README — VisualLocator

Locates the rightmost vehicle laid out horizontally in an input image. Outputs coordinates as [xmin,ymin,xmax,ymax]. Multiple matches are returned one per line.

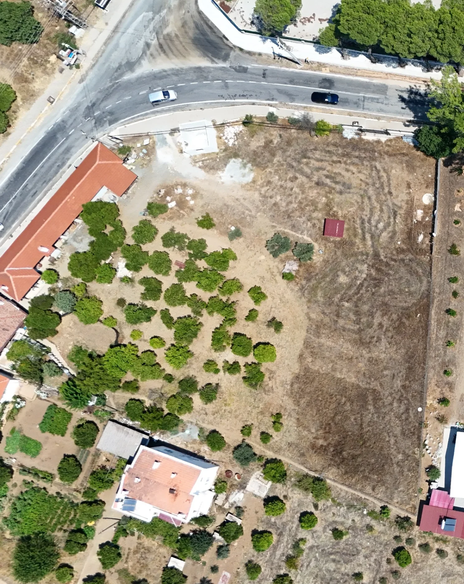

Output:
[309,90,339,105]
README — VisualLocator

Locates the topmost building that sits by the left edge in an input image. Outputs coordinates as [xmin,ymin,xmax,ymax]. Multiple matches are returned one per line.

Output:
[0,142,146,302]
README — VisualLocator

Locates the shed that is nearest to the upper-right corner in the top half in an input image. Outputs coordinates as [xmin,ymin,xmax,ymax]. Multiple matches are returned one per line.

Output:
[324,218,347,238]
